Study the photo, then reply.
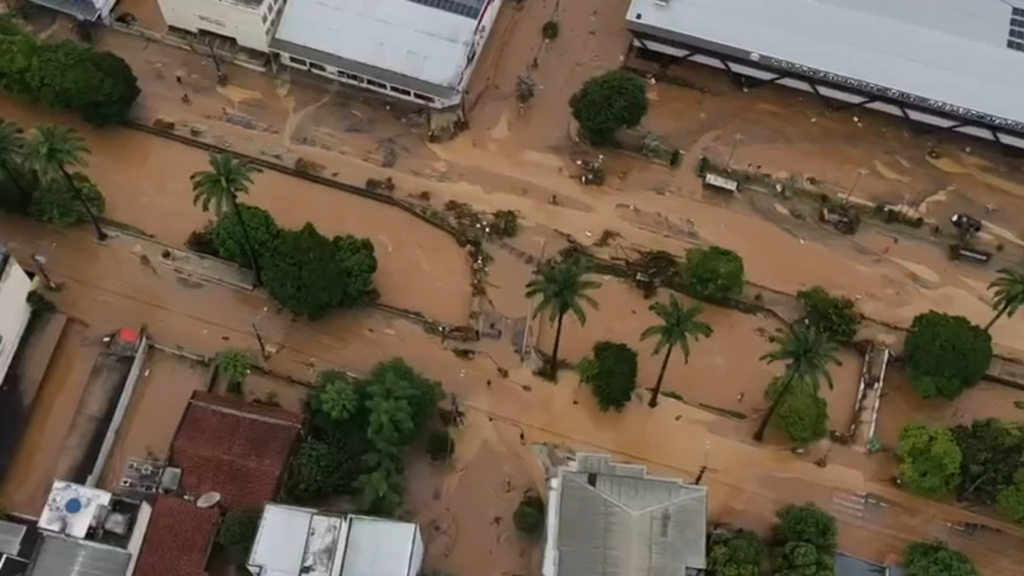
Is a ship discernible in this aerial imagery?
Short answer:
No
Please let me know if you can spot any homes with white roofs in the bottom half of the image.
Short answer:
Yes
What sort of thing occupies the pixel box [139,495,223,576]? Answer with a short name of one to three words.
house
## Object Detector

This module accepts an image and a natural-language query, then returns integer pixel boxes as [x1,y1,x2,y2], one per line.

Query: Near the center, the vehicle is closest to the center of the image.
[445,325,480,342]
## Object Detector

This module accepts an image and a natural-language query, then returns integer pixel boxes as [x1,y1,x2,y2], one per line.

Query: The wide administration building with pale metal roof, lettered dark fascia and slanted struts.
[625,0,1024,169]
